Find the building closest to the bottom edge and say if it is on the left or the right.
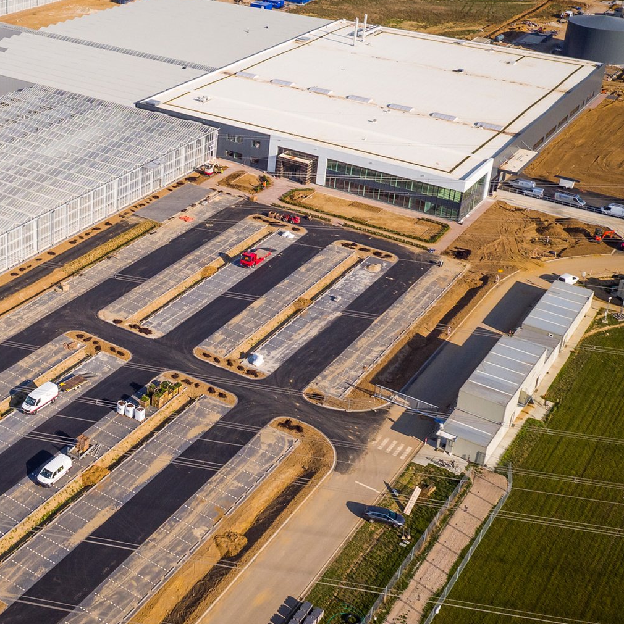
right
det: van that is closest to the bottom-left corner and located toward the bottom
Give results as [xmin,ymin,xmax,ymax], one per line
[34,450,73,487]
